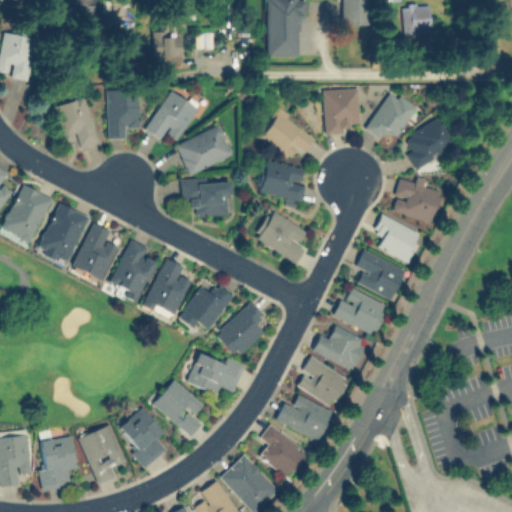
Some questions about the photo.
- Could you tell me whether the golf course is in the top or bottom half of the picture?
bottom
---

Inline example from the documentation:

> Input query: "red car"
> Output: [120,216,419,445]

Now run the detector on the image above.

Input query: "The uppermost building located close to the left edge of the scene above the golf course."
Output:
[0,31,32,80]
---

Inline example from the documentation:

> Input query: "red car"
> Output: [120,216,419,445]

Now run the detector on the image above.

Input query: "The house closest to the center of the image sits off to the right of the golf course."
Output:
[258,212,306,266]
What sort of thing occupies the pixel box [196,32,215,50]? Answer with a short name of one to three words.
building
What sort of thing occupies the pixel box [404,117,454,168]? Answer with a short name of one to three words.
house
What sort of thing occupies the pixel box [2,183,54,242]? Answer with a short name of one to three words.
house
